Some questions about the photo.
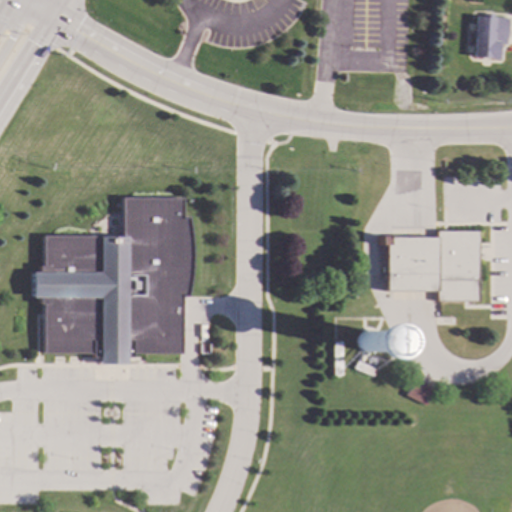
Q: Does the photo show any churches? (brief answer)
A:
Yes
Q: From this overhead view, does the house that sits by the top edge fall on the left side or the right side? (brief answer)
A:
right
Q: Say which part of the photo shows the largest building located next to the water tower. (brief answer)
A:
right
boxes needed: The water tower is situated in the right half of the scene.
[357,324,422,362]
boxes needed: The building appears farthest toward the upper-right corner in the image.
[476,13,509,58]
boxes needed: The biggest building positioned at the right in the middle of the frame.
[381,231,482,302]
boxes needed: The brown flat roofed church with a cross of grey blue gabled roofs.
[33,198,196,363]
